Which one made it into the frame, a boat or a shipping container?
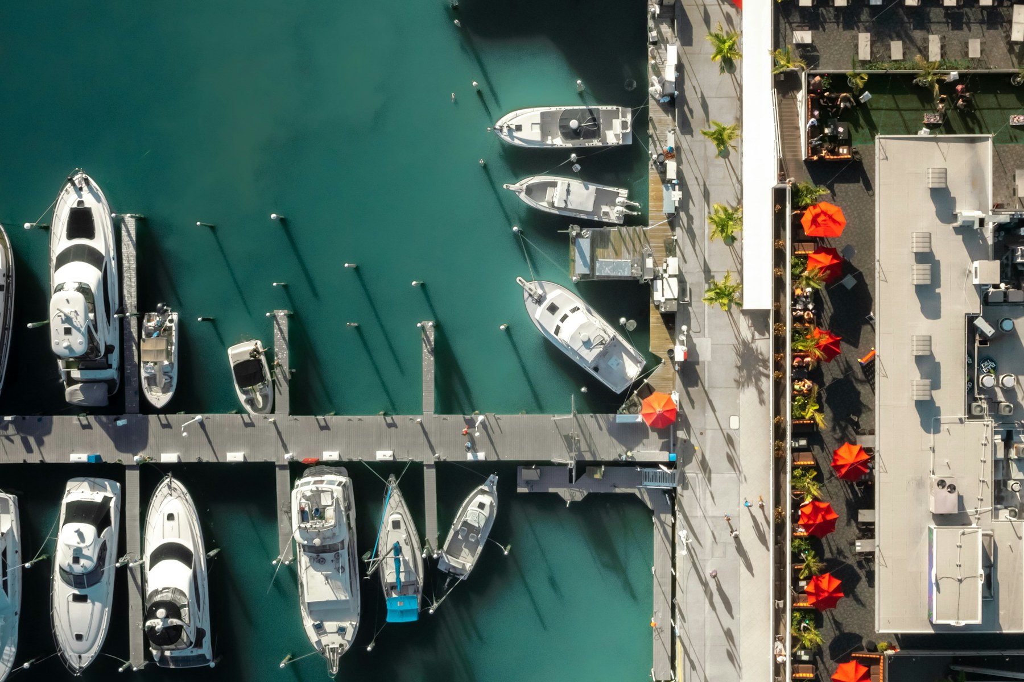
boat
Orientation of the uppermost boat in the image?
from left to right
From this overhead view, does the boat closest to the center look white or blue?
white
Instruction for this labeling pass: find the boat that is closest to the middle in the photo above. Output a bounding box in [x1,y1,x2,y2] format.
[519,281,646,393]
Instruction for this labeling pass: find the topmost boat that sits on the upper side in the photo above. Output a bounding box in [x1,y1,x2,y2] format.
[488,105,634,148]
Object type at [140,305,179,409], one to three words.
boat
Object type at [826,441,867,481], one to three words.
umbrella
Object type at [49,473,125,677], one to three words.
boat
